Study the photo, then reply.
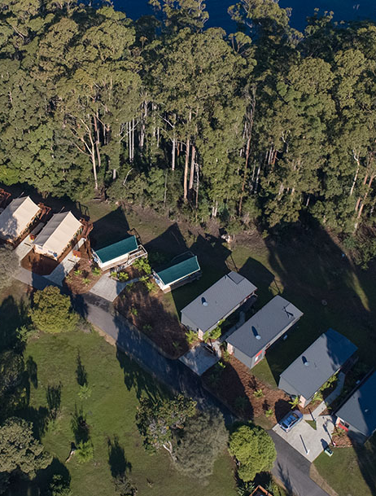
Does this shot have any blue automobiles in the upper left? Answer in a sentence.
No, in the upper left there is no blue automobile.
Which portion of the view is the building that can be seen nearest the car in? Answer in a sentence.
The building that can be seen nearest the car is located in the bottom right region of the scene.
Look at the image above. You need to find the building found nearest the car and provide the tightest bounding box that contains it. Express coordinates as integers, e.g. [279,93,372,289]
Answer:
[279,328,358,410]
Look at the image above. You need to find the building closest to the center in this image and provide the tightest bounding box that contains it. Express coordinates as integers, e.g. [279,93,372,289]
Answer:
[151,255,211,300]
